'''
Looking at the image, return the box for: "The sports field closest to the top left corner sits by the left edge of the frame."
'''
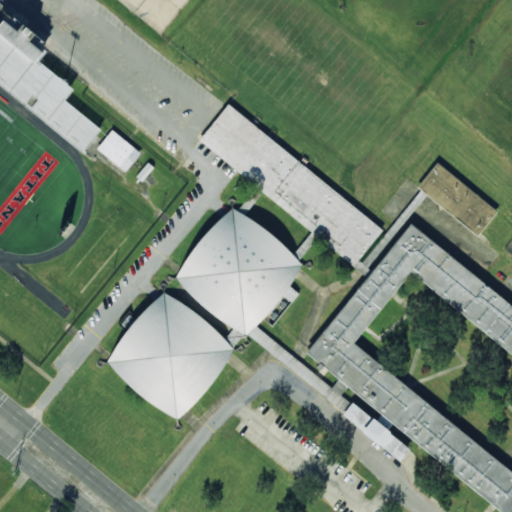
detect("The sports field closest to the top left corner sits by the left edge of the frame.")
[0,100,84,254]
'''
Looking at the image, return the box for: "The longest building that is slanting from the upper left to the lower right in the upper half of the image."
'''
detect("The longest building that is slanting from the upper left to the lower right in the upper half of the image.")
[200,105,382,266]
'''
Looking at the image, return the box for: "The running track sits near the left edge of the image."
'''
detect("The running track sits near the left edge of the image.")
[0,86,94,264]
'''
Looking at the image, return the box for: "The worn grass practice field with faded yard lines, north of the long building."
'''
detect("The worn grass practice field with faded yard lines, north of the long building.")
[192,0,403,155]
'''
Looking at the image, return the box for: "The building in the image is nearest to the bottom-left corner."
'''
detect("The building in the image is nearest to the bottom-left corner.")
[100,286,242,426]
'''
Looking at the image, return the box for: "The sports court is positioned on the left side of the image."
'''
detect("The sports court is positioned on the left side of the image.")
[116,0,189,34]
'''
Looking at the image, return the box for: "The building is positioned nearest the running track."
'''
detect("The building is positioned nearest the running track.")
[98,130,140,172]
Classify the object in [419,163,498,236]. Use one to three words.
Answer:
building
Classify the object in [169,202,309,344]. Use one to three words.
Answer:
building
